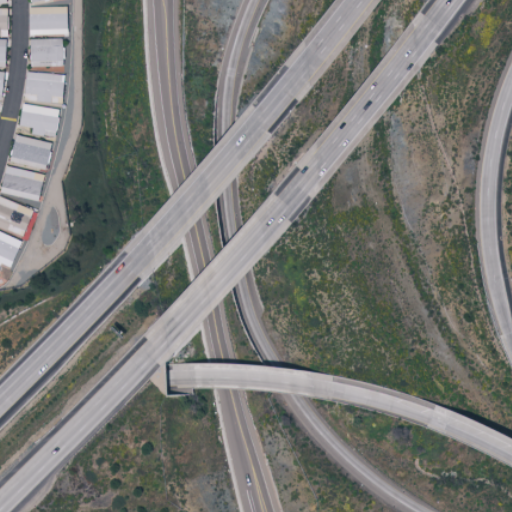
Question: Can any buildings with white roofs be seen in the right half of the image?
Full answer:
No, in the right half of the image there is no building with a white roof.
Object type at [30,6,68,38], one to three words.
house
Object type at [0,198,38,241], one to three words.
house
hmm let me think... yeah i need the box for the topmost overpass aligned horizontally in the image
[170,364,314,398]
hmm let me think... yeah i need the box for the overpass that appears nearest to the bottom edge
[437,406,512,468]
